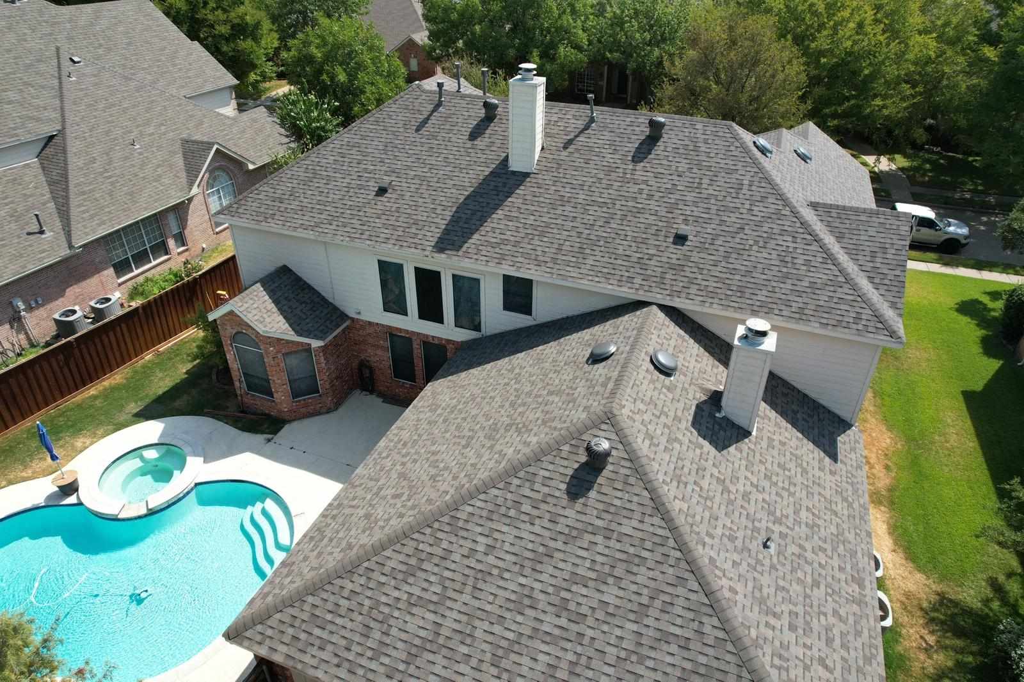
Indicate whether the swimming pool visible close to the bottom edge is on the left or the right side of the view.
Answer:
left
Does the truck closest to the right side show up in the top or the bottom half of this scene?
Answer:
top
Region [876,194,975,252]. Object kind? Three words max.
truck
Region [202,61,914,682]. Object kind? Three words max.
house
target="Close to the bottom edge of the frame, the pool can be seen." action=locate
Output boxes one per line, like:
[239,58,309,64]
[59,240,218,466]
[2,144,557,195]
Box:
[0,439,306,682]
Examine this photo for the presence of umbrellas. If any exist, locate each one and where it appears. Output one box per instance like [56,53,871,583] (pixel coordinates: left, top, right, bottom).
[35,419,61,478]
